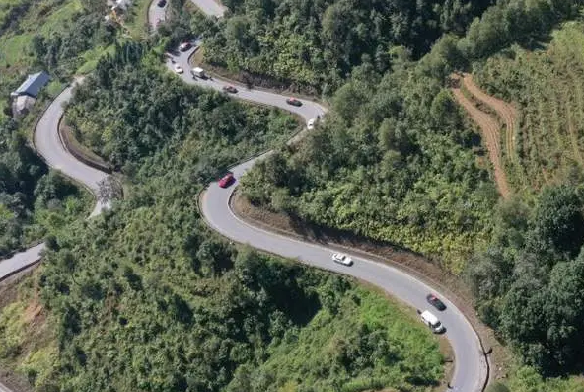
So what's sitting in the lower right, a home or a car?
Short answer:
car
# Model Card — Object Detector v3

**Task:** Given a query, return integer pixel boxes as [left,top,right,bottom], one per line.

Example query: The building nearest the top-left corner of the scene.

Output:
[17,75,52,106]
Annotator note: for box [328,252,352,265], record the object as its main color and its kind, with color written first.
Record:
white vehicle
